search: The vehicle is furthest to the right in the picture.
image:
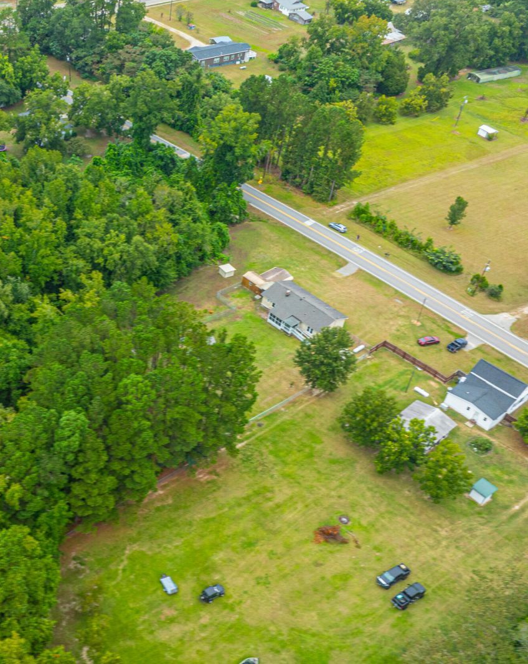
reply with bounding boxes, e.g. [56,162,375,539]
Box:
[444,337,472,353]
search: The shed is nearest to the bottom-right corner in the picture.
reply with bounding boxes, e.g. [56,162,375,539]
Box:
[468,484,499,510]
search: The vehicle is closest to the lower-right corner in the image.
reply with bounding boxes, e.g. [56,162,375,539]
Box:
[390,582,430,614]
